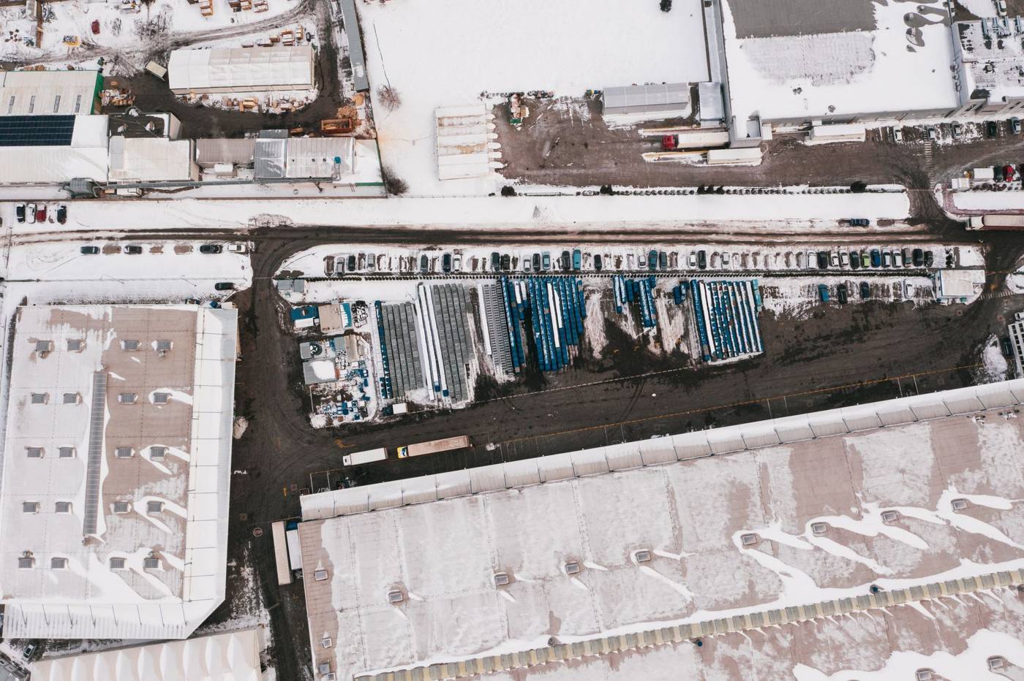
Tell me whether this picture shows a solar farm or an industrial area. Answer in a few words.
industrial area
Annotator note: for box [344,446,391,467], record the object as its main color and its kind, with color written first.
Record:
white truck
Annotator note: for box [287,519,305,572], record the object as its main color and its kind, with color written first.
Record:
white vehicle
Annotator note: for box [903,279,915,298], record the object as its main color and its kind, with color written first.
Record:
white vehicle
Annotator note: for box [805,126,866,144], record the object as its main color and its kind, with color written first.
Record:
white trailer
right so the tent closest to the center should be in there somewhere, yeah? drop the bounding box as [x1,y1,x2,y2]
[436,102,491,183]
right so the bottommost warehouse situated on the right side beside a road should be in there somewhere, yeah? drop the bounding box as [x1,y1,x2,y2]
[299,380,1024,681]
